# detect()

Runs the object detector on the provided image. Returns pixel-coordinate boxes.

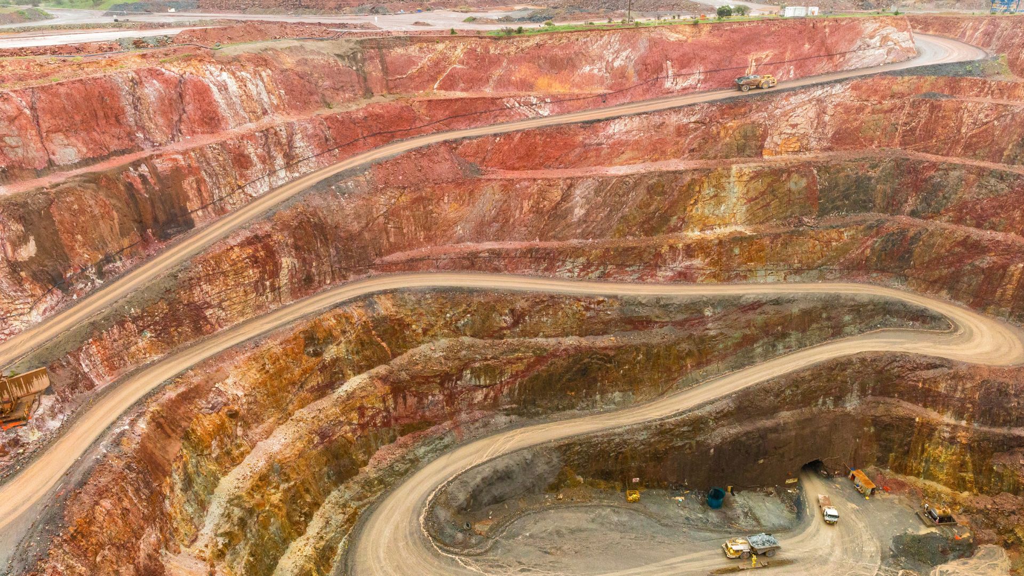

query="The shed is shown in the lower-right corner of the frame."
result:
[848,464,880,494]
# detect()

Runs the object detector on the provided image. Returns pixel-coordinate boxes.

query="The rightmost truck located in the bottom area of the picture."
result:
[817,489,844,523]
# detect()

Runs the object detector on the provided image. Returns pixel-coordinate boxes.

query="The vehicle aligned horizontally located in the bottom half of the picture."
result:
[724,534,788,561]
